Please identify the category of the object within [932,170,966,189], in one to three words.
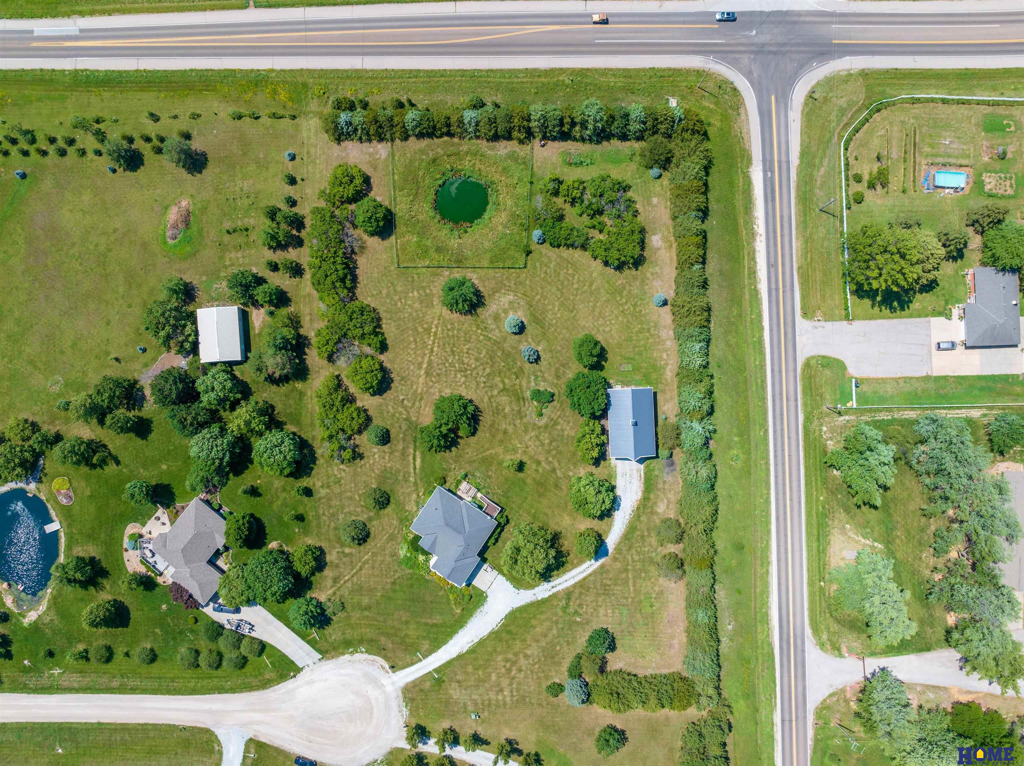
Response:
swimming pool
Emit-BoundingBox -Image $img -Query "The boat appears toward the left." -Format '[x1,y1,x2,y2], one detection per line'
[226,621,251,636]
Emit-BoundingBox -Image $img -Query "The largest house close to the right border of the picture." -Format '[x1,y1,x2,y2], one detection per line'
[960,267,1021,347]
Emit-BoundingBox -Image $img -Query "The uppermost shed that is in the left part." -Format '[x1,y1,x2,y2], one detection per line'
[196,306,247,363]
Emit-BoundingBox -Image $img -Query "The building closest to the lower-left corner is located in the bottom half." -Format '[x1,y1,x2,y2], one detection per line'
[152,497,227,606]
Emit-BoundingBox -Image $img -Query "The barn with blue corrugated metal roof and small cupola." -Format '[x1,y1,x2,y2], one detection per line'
[607,388,656,462]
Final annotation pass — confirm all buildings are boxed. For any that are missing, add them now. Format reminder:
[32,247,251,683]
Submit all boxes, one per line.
[152,497,227,606]
[960,267,1021,347]
[409,486,498,589]
[196,306,247,363]
[607,388,656,462]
